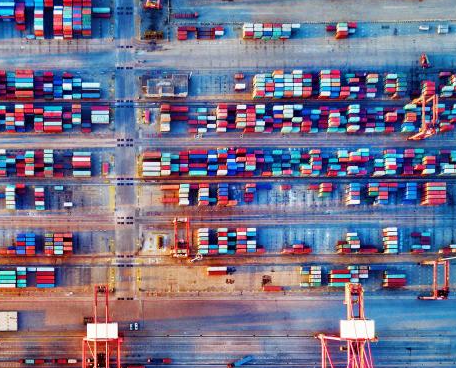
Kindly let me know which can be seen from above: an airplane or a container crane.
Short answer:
container crane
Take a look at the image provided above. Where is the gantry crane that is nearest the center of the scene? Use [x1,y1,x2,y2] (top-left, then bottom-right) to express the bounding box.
[169,219,190,262]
